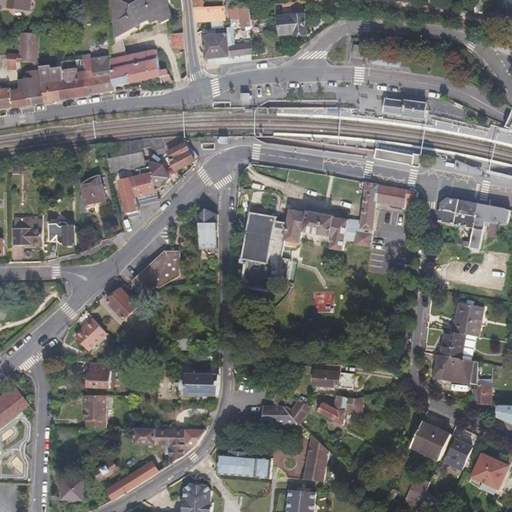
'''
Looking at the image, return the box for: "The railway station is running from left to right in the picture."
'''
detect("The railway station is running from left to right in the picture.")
[274,108,512,170]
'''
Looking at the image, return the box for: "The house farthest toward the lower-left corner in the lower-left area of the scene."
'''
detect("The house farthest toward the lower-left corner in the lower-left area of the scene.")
[60,482,85,502]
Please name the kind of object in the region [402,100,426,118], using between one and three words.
building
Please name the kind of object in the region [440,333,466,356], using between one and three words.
house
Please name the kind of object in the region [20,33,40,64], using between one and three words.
barn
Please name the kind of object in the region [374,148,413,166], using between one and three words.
building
